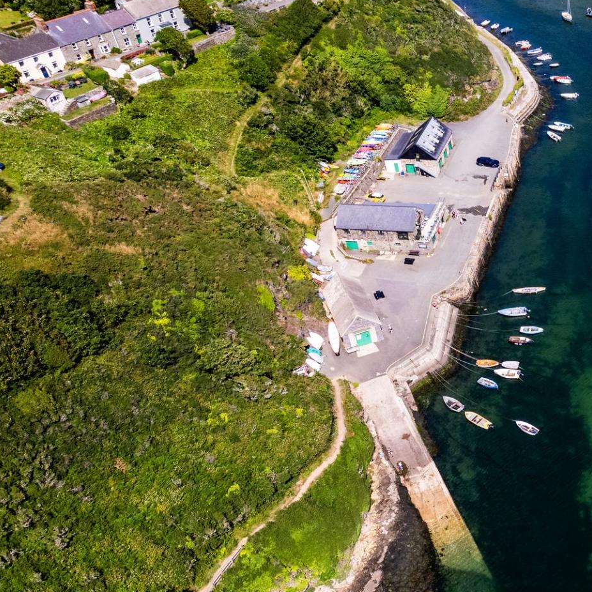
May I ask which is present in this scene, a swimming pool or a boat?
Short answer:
boat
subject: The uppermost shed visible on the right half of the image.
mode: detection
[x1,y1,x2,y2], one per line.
[376,112,453,179]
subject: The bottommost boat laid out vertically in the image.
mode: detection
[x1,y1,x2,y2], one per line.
[326,318,342,358]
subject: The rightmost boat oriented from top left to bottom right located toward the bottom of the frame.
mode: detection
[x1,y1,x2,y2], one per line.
[515,420,539,438]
